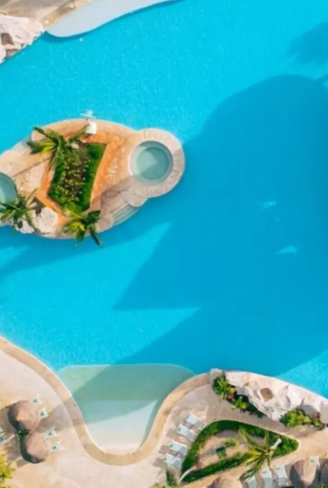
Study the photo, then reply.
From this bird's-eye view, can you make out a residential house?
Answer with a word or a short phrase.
No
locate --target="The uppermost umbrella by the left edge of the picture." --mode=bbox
[11,396,48,430]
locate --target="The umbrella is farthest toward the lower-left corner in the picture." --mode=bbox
[21,430,59,465]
